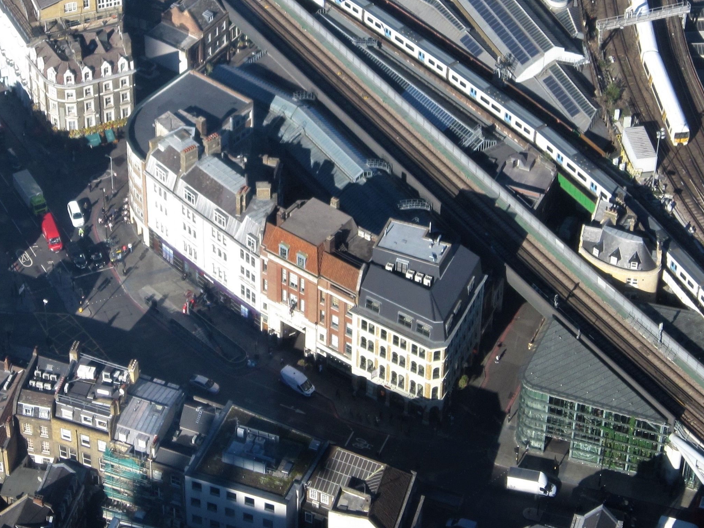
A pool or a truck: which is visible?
truck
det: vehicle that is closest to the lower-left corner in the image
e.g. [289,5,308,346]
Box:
[186,374,219,396]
